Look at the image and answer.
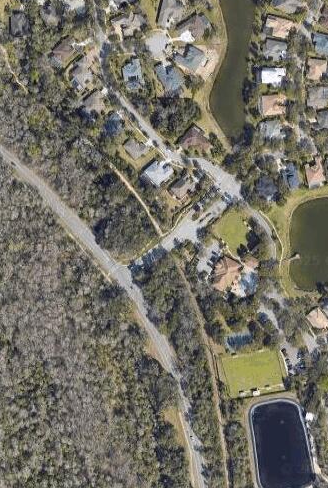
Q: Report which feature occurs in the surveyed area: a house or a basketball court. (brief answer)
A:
house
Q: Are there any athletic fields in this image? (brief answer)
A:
Yes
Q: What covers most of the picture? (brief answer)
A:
trees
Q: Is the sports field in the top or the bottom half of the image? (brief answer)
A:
bottom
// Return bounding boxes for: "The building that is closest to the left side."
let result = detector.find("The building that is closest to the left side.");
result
[10,13,29,36]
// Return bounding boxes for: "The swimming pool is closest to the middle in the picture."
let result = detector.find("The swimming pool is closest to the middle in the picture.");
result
[234,269,258,298]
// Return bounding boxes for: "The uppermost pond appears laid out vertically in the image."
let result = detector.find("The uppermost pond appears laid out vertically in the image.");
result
[208,0,254,147]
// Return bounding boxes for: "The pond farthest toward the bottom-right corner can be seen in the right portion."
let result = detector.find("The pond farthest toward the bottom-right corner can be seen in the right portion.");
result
[253,399,314,488]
